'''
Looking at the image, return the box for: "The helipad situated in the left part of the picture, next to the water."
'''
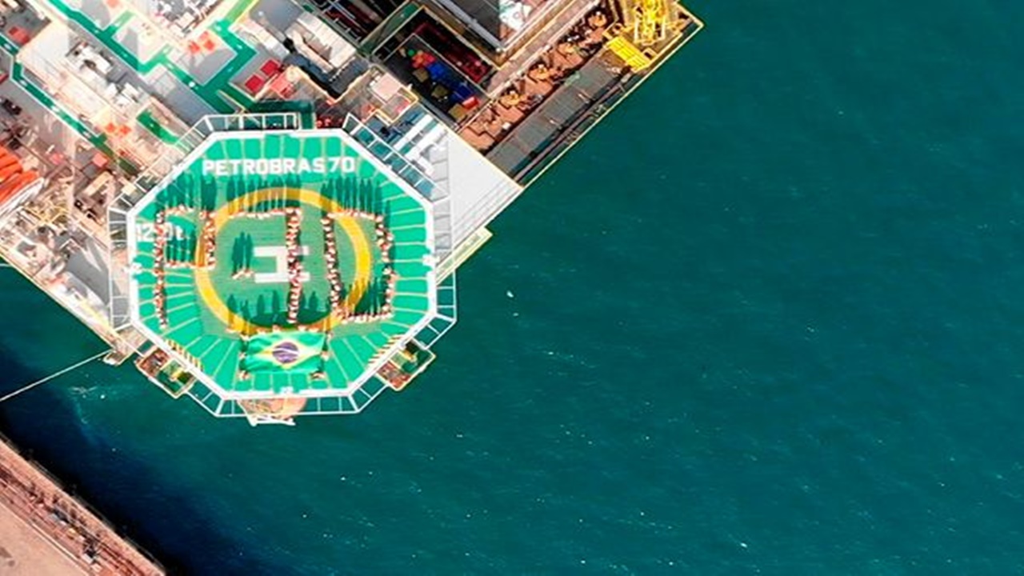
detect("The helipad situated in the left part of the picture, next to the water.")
[108,113,456,416]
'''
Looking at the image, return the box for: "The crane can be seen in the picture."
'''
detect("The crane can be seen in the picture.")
[617,0,682,59]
